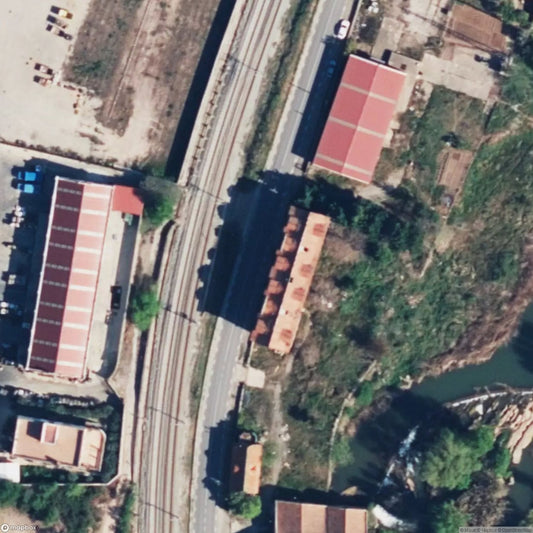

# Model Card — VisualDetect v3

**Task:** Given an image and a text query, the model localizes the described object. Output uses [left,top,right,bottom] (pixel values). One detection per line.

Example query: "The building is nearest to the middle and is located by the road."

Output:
[251,204,332,355]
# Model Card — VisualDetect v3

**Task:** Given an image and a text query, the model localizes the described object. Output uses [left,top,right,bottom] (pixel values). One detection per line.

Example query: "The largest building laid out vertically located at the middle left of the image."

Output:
[26,177,113,385]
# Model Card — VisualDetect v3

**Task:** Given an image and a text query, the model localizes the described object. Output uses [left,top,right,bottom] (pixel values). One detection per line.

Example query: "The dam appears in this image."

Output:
[371,388,533,506]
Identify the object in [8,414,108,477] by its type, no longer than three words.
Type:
house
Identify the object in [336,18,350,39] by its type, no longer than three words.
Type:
car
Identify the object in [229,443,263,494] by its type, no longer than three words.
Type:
house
